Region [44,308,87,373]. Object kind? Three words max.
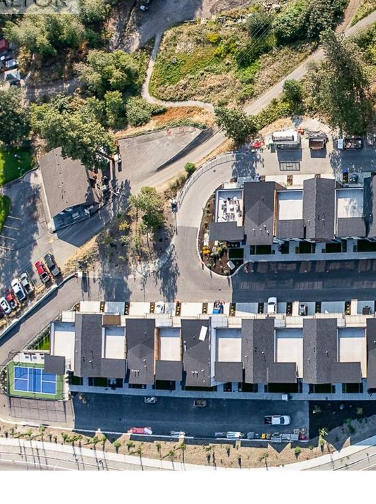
house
